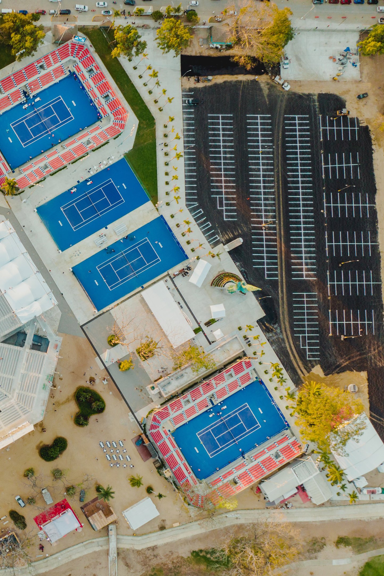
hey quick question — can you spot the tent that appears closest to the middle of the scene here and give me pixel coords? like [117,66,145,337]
[186,260,212,287]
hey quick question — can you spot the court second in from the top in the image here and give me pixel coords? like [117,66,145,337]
[36,158,152,251]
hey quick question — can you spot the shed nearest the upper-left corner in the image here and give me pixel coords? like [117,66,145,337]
[52,24,78,45]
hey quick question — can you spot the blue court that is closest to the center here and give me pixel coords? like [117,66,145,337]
[72,215,189,311]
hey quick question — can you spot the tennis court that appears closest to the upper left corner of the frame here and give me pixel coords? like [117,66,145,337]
[0,71,102,170]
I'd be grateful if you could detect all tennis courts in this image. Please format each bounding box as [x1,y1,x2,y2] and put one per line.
[0,71,102,170]
[172,379,288,480]
[72,215,189,311]
[36,158,152,251]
